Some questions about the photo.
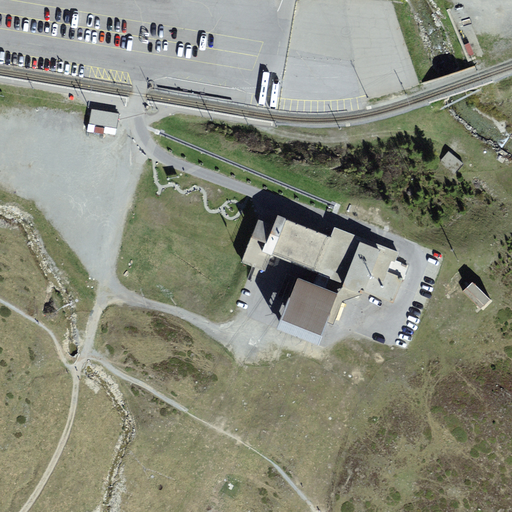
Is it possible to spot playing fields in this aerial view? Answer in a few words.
No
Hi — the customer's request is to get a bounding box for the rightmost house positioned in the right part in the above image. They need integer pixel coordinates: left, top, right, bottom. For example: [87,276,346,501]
[462,282,492,314]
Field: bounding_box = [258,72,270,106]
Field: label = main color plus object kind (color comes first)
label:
white vehicle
